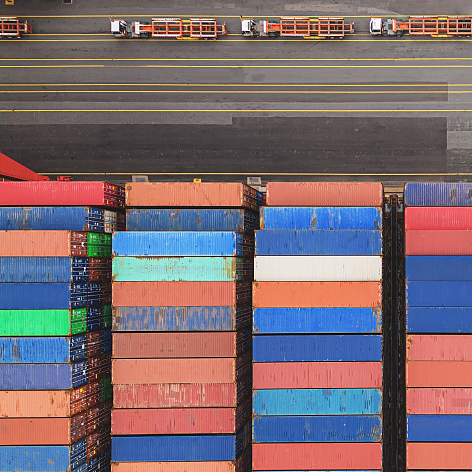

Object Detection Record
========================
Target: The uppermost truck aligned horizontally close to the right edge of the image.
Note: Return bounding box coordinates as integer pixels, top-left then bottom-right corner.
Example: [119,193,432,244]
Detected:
[371,14,472,38]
